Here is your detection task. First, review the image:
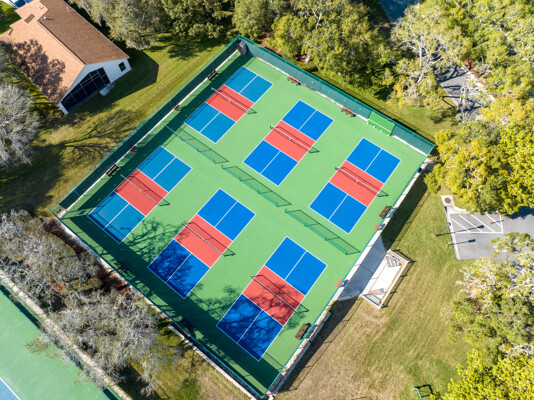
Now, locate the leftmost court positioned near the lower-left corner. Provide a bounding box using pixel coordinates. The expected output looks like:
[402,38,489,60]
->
[0,295,103,400]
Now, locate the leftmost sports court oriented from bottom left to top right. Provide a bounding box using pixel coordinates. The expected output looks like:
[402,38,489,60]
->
[88,146,192,244]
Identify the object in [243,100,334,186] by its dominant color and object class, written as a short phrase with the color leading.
blue sports court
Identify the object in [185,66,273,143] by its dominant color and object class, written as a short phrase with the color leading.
blue sports court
